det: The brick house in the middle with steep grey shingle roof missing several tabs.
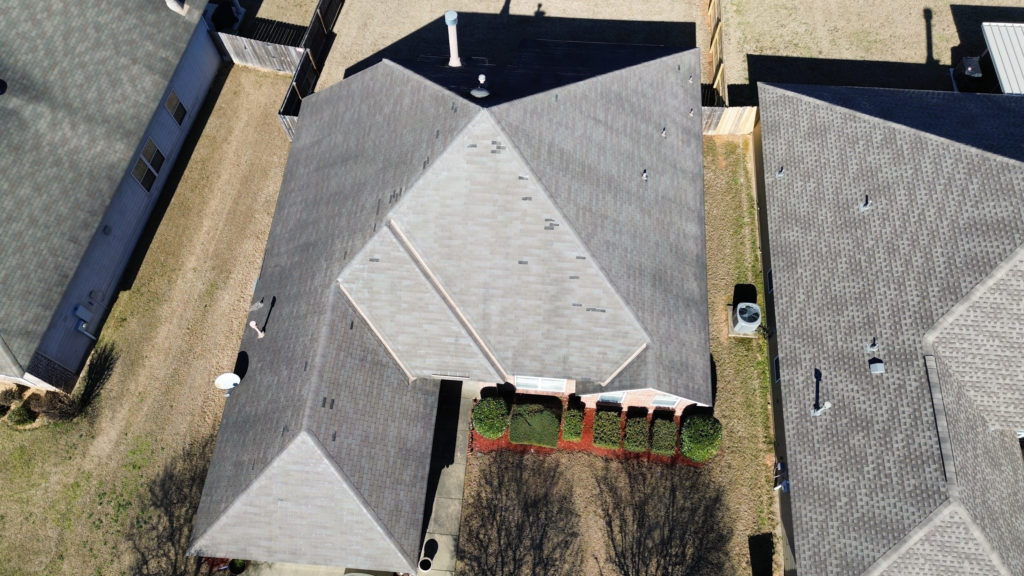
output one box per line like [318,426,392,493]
[185,11,713,576]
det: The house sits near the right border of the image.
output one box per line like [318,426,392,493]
[752,81,1024,576]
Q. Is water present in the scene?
No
